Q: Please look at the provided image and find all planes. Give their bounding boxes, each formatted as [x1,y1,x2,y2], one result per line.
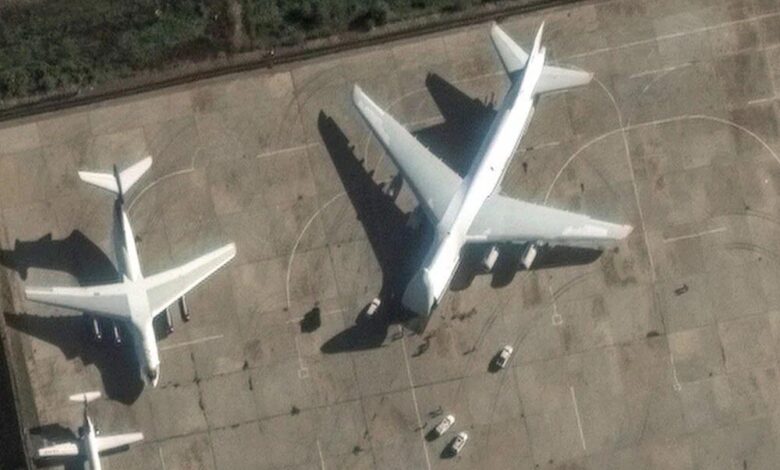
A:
[353,19,634,336]
[38,392,143,470]
[23,156,235,388]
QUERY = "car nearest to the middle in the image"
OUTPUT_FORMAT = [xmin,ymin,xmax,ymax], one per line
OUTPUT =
[367,300,380,319]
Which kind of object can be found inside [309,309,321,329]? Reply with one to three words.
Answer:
vehicle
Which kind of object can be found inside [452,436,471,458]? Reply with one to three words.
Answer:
vehicle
